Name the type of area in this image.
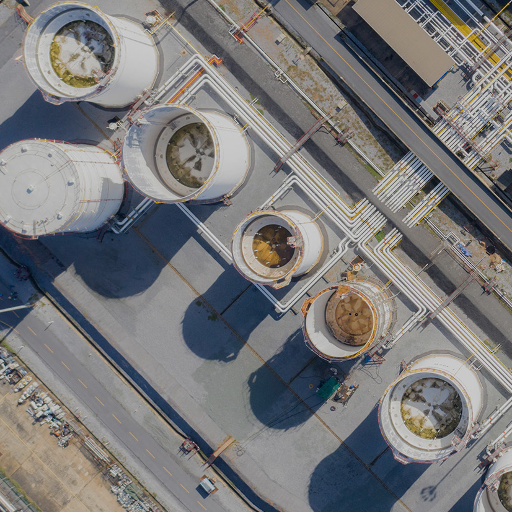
industrial area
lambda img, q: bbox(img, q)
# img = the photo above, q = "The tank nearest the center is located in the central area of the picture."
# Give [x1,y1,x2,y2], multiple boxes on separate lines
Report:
[228,205,327,290]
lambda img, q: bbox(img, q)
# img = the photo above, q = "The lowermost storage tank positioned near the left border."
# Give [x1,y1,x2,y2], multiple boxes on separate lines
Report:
[0,139,129,235]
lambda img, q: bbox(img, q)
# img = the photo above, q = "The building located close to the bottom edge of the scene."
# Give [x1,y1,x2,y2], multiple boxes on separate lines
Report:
[196,471,219,498]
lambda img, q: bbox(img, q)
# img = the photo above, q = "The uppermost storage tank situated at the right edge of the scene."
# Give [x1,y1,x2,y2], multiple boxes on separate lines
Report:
[373,349,488,470]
